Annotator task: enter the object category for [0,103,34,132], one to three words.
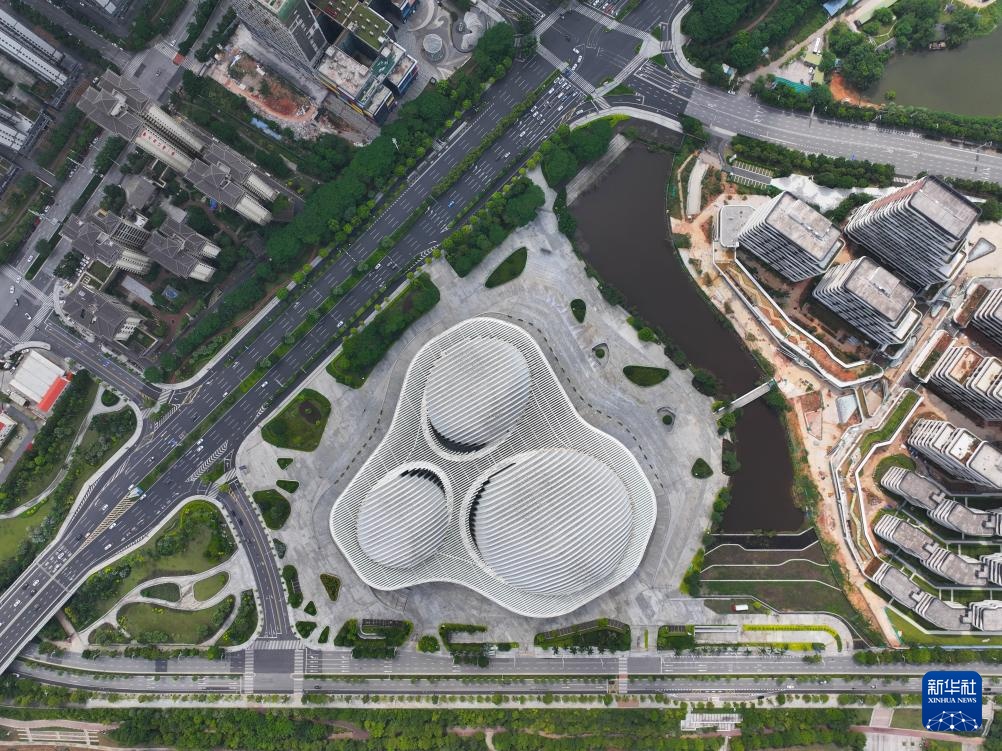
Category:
building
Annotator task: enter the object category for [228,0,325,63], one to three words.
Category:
building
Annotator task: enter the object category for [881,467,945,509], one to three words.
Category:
house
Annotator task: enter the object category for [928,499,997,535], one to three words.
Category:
house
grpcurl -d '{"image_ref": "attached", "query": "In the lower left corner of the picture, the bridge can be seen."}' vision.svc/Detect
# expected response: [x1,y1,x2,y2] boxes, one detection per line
[0,562,69,673]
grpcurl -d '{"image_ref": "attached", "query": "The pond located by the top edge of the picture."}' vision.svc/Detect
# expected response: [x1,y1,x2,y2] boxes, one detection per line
[865,24,1002,116]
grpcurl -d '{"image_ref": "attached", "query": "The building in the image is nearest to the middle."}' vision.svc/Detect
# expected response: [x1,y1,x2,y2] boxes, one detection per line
[331,317,656,618]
